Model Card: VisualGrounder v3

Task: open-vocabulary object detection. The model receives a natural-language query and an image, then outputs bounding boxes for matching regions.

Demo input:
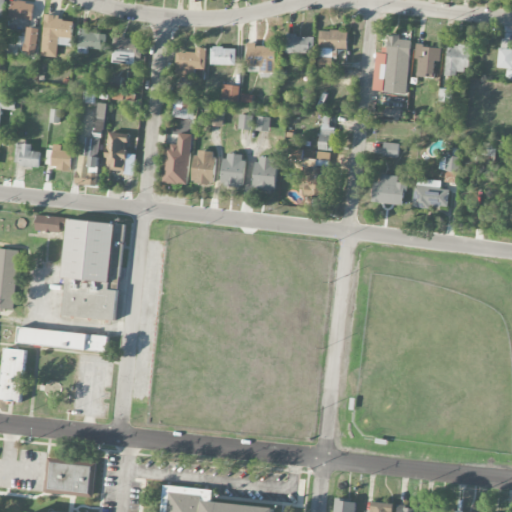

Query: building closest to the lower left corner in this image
[44,458,99,496]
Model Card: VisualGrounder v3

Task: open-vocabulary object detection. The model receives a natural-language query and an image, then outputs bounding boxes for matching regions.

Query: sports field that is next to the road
[150,226,335,439]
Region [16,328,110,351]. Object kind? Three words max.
building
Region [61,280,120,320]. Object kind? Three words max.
building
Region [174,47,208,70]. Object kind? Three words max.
house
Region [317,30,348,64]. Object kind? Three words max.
house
